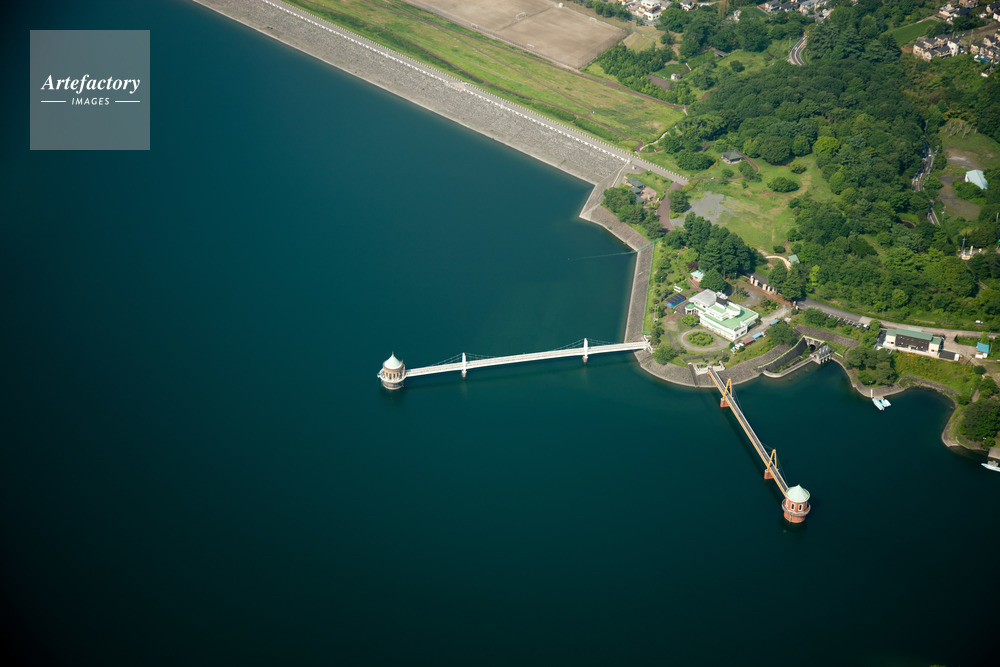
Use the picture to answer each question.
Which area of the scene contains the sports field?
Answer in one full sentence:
The sports field is in the top part of the image.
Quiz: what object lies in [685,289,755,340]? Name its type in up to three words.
building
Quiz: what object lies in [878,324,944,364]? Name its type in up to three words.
building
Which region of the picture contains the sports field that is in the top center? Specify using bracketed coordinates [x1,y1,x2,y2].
[403,0,626,71]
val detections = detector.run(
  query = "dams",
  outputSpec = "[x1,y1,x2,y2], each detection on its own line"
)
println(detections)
[193,0,688,188]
